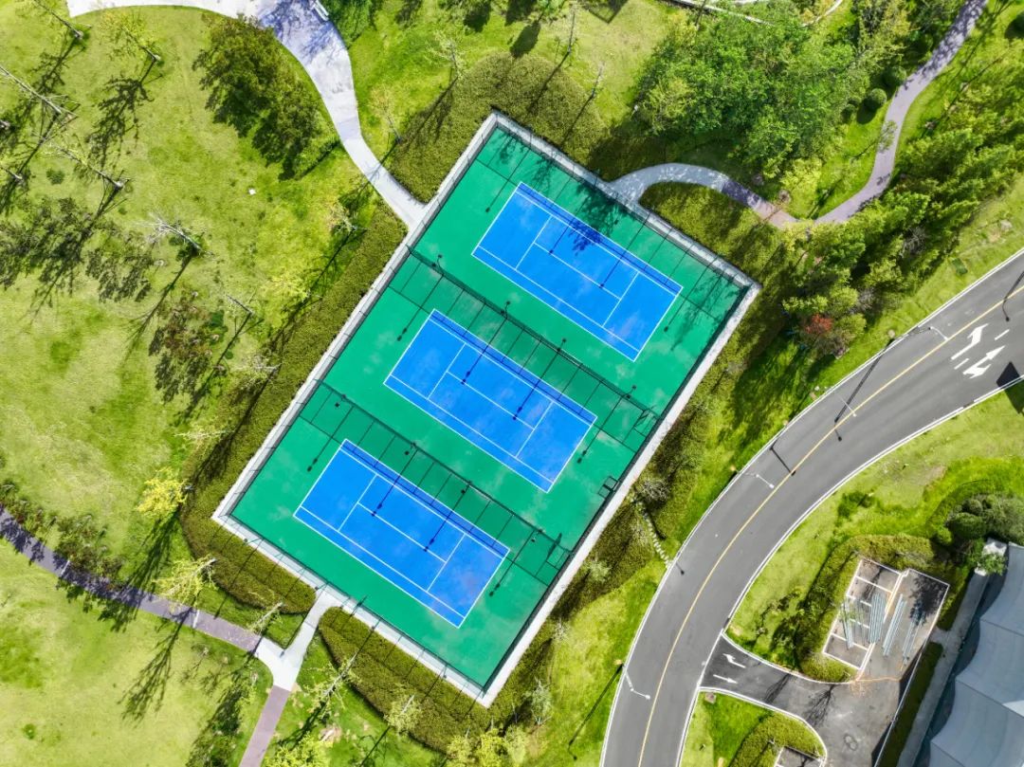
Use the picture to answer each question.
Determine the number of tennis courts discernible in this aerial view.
three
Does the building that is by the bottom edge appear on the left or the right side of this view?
right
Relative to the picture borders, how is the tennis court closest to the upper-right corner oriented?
at an angle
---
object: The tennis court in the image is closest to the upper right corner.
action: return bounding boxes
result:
[472,182,682,361]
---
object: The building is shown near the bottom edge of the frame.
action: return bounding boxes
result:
[906,543,1024,767]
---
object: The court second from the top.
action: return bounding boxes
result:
[384,309,597,493]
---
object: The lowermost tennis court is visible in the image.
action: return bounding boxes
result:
[294,439,509,627]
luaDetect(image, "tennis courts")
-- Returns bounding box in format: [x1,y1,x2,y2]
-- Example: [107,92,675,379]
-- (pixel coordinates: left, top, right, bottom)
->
[384,309,597,493]
[472,182,682,361]
[294,439,509,627]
